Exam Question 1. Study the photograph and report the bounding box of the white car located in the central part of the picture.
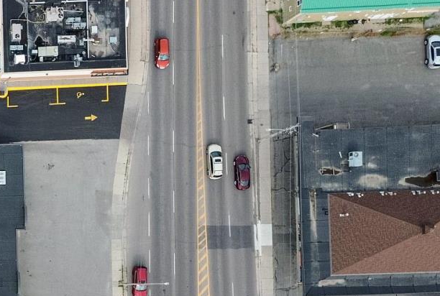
[205,145,226,179]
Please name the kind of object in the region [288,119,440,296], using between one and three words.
building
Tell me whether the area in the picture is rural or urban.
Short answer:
urban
